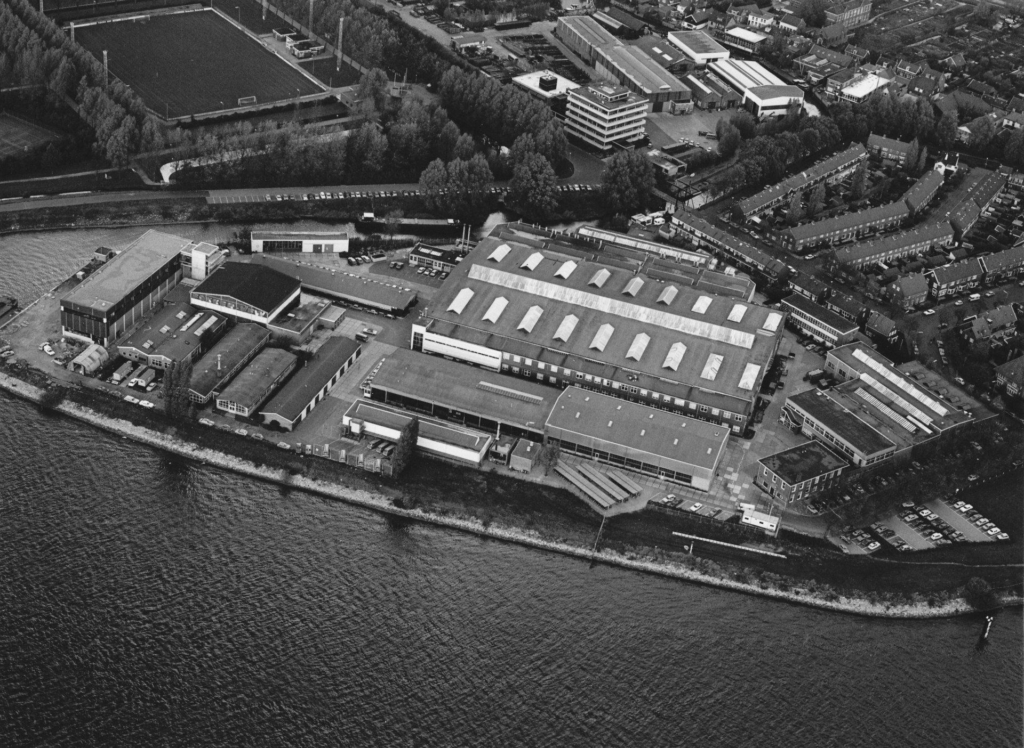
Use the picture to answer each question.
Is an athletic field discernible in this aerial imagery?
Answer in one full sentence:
Yes, the image includes an athletic field.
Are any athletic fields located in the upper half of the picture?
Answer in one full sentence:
Yes, an athletic field appears in the upper half of the picture.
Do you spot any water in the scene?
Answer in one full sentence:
Yes, water can be seen from above here.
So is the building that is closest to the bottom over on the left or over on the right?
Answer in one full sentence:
It is on the right.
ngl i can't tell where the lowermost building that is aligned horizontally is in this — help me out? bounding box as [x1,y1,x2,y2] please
[741,508,778,532]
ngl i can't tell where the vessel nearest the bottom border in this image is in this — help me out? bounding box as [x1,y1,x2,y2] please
[0,298,21,321]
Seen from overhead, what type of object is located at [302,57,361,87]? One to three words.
sports field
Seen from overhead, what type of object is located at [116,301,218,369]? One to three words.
building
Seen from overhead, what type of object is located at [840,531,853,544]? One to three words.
vehicle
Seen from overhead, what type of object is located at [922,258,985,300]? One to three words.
house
